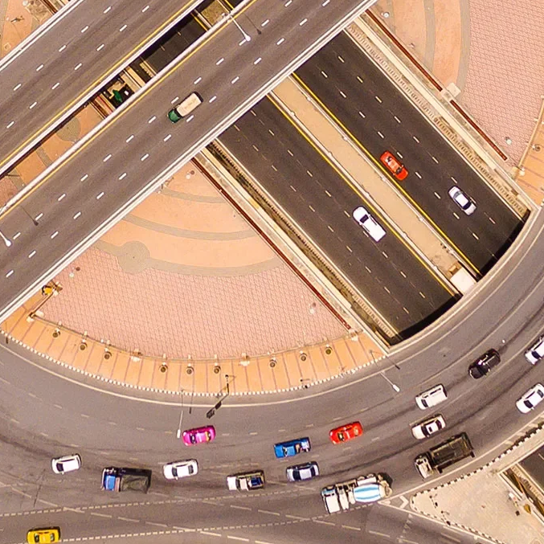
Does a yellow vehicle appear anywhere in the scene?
Yes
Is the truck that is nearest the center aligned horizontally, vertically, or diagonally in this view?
diagonally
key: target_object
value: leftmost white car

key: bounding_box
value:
[51,453,81,472]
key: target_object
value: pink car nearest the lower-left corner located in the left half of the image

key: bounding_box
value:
[184,424,215,443]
